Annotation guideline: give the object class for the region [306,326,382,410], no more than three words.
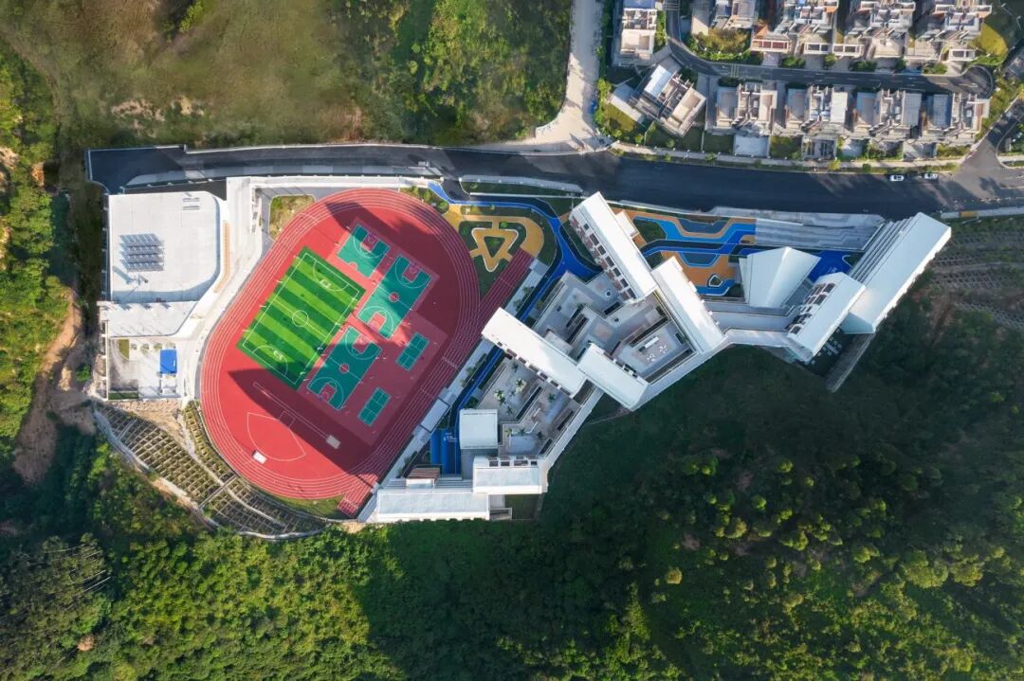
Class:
basketball court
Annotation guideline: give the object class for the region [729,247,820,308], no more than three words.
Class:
building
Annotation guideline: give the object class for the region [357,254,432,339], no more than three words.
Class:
basketball court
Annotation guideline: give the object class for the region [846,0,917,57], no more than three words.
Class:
house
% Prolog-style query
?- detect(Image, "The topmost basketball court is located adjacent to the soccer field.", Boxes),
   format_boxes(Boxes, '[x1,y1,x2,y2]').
[338,225,390,277]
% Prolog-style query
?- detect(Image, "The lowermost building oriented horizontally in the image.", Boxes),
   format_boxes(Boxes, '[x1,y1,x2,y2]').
[376,479,491,521]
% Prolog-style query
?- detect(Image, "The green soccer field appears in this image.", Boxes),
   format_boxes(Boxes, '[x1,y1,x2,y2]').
[236,246,366,390]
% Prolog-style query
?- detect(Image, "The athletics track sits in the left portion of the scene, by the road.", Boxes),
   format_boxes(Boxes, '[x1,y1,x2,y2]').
[198,188,533,518]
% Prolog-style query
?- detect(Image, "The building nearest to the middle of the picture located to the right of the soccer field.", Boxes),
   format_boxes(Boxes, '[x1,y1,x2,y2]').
[479,307,587,402]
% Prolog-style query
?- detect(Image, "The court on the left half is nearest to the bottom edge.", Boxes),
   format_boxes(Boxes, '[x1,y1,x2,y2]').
[358,387,391,426]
